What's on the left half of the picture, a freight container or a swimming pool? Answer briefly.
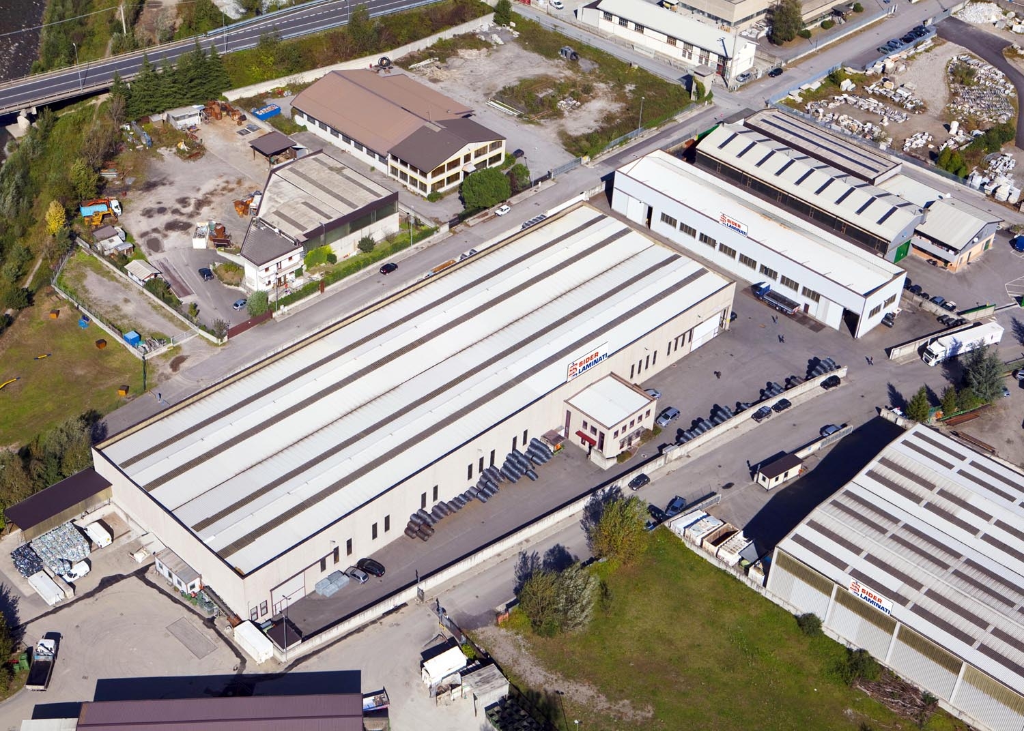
freight container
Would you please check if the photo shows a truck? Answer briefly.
Yes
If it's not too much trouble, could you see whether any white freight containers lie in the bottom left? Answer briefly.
Yes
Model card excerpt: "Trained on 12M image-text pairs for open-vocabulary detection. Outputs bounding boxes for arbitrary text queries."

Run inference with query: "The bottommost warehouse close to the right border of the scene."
[767,420,1024,731]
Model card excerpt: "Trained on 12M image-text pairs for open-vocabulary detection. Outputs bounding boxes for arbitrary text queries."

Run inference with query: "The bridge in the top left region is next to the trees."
[0,37,184,142]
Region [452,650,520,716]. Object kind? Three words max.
shed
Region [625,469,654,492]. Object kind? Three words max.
car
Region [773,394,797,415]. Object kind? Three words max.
truck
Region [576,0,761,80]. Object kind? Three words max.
building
